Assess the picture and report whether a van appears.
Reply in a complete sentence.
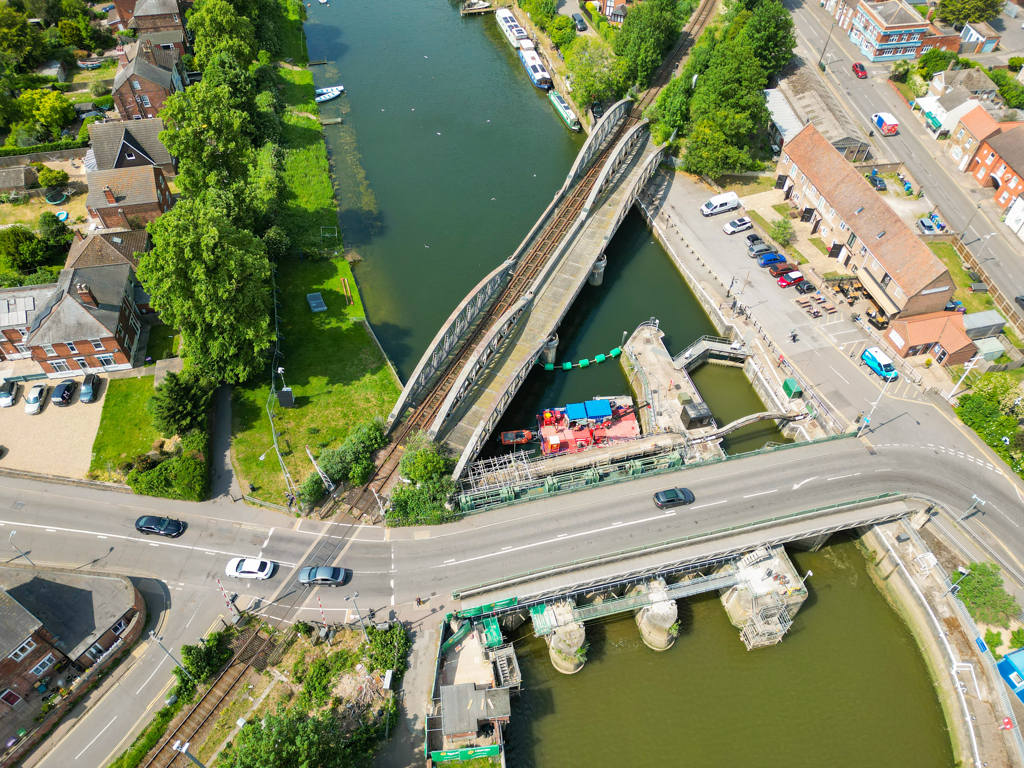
Yes, there's a van here.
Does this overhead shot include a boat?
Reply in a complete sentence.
Yes, a boat appears in the view.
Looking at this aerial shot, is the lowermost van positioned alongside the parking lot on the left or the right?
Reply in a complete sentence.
The lowermost van positioned alongside the parking lot appears in the right half of the scene.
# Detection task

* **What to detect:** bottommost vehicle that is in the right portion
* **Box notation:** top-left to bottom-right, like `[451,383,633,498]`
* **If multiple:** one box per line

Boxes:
[653,485,694,509]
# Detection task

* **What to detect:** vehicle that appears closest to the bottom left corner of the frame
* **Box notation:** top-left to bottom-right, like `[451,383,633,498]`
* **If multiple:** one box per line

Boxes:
[133,516,185,540]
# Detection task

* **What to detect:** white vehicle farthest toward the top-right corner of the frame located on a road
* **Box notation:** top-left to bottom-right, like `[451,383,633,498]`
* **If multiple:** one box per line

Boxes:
[869,110,903,135]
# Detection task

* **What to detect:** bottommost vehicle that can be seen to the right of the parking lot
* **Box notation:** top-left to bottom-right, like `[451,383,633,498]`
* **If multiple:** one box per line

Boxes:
[860,344,899,381]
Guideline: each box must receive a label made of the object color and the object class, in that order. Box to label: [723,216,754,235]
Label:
white car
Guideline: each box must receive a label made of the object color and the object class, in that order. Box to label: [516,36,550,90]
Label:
white boat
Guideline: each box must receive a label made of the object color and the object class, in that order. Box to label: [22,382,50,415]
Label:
white car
